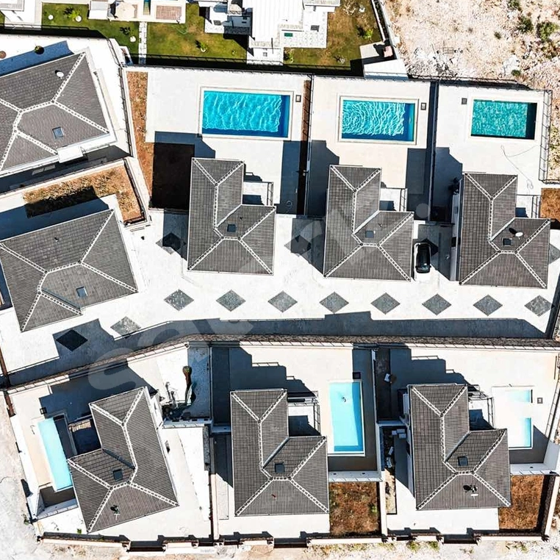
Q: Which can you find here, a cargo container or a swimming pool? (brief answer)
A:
swimming pool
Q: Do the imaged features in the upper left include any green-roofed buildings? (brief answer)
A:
No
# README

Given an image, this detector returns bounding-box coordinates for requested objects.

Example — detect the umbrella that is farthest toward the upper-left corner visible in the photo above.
[116,1,138,23]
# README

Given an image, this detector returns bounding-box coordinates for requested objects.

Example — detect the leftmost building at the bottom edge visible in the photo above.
[65,380,180,535]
